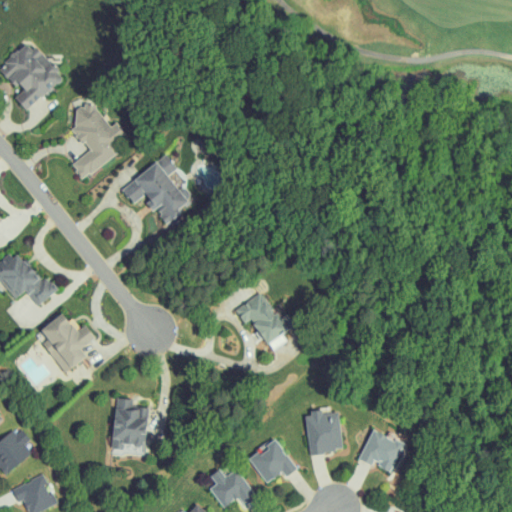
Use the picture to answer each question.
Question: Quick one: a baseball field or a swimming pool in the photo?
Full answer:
The one in the frame is a swimming pool.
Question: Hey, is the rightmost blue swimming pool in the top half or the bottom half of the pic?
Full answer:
The top half of the photo is where the rightmost blue swimming pool is.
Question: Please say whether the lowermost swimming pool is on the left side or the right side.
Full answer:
You can find the lowermost swimming pool on the left side of the picture.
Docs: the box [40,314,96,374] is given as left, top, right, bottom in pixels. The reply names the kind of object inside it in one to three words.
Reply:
house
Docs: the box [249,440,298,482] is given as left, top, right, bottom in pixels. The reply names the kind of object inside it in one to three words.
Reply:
house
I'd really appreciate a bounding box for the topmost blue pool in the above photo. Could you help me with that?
[200,162,220,190]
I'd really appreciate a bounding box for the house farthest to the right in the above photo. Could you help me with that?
[358,429,408,475]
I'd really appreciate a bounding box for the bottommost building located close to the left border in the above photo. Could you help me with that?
[8,474,57,512]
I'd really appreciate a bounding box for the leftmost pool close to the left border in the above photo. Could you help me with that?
[20,358,50,385]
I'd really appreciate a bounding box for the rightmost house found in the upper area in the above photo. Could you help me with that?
[118,151,194,226]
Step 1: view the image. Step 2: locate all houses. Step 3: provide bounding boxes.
[306,410,344,457]
[8,474,57,512]
[2,42,65,110]
[210,469,254,508]
[110,398,150,450]
[0,252,58,308]
[249,440,298,482]
[72,99,124,179]
[118,151,194,226]
[233,292,290,343]
[40,314,96,374]
[0,428,34,481]
[358,429,408,475]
